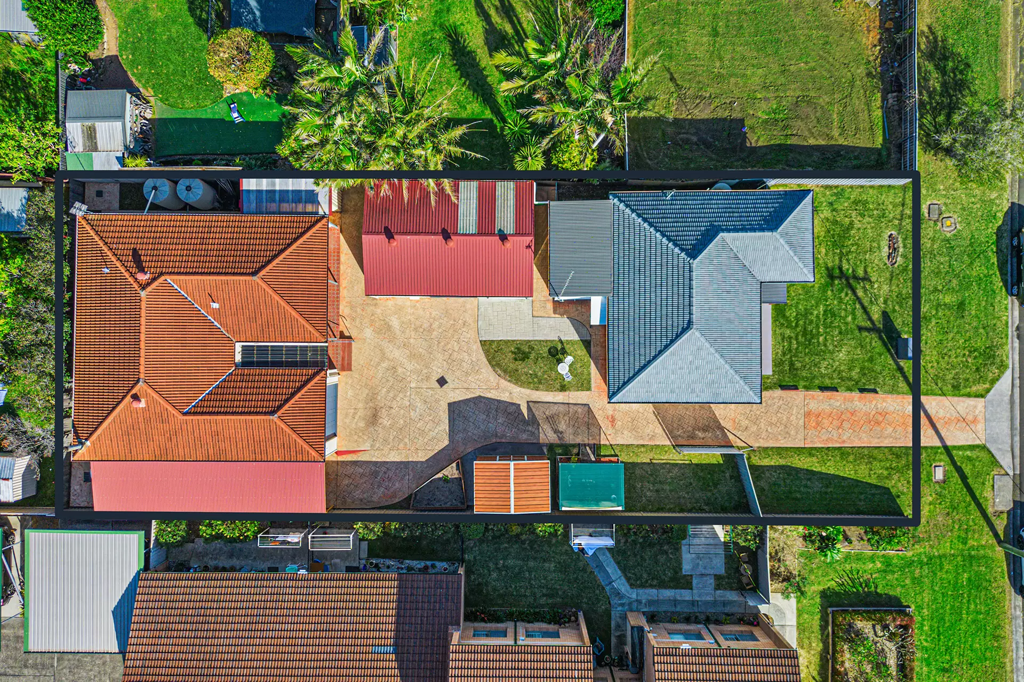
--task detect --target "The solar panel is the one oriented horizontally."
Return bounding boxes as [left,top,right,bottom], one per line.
[242,343,326,365]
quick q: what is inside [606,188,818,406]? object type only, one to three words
house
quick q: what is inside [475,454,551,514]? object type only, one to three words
gazebo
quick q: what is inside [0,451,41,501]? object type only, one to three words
shed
